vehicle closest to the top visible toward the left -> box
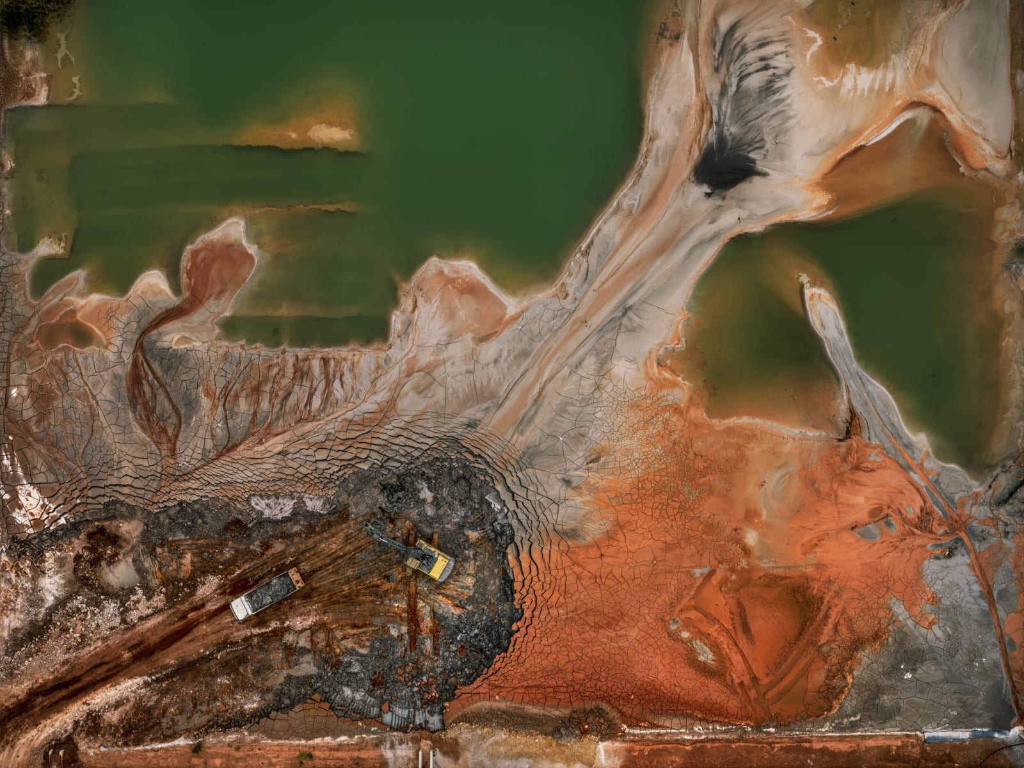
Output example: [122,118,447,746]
[362,520,453,580]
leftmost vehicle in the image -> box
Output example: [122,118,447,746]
[232,565,306,620]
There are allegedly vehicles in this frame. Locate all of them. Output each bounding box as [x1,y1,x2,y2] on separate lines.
[362,520,453,580]
[232,565,306,620]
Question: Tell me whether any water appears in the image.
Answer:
Yes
